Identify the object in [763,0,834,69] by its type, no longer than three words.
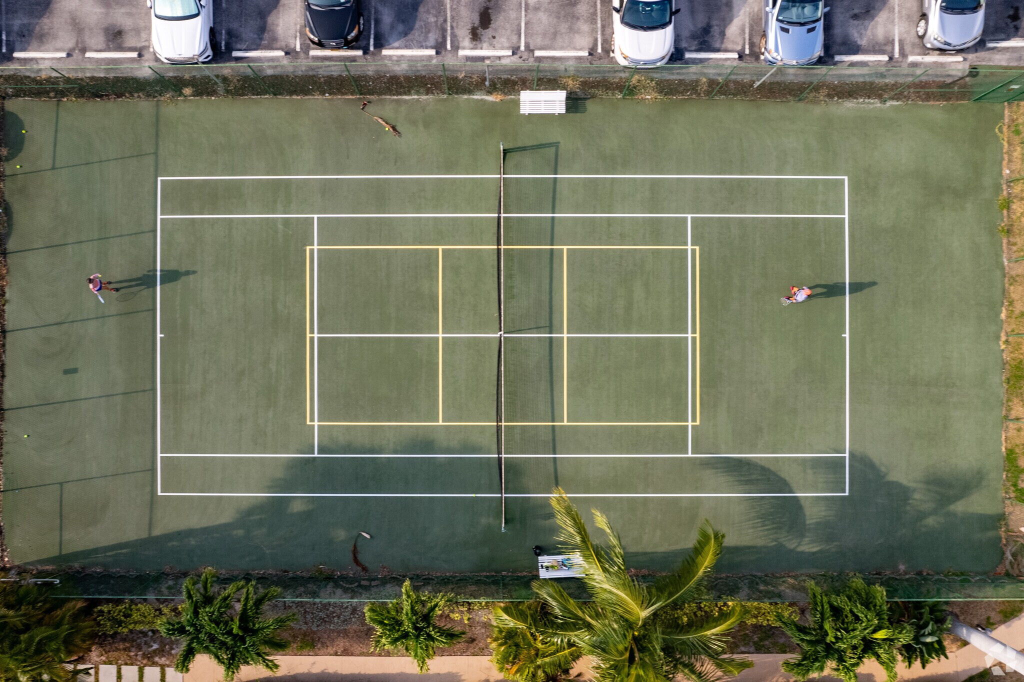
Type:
car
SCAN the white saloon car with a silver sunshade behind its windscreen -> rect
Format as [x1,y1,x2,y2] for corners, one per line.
[140,0,215,65]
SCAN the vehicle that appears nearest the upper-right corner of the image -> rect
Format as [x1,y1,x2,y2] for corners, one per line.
[922,0,998,54]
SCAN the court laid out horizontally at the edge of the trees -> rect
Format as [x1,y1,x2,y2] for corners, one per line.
[2,96,1006,573]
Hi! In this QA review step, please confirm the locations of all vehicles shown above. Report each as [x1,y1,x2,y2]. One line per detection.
[922,0,998,54]
[140,0,215,65]
[610,0,683,70]
[305,0,361,51]
[763,0,834,69]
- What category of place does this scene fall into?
sports ground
